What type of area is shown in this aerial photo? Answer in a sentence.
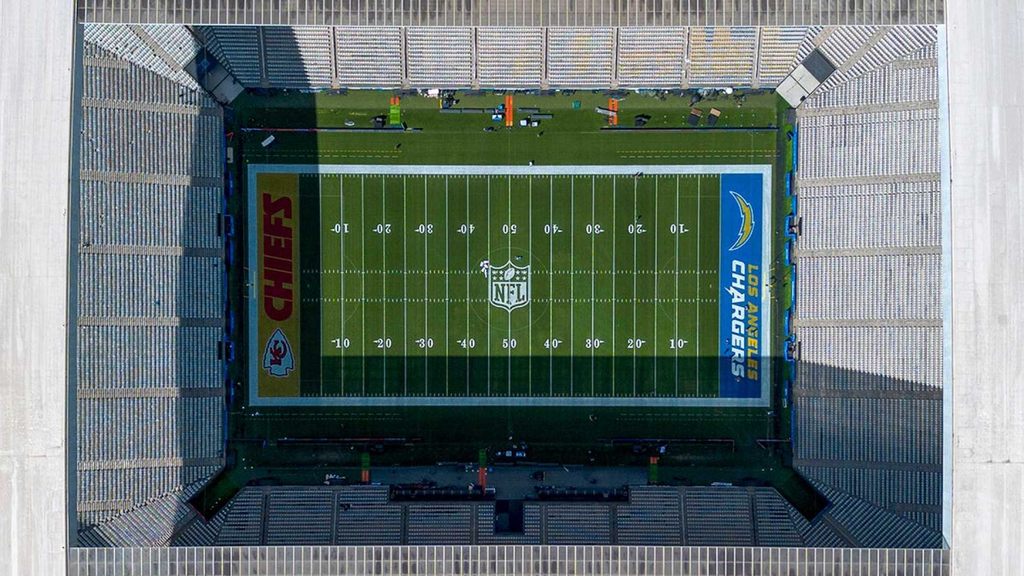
This looks like a sports ground.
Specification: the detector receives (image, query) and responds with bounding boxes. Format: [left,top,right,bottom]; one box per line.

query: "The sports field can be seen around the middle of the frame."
[207,75,812,499]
